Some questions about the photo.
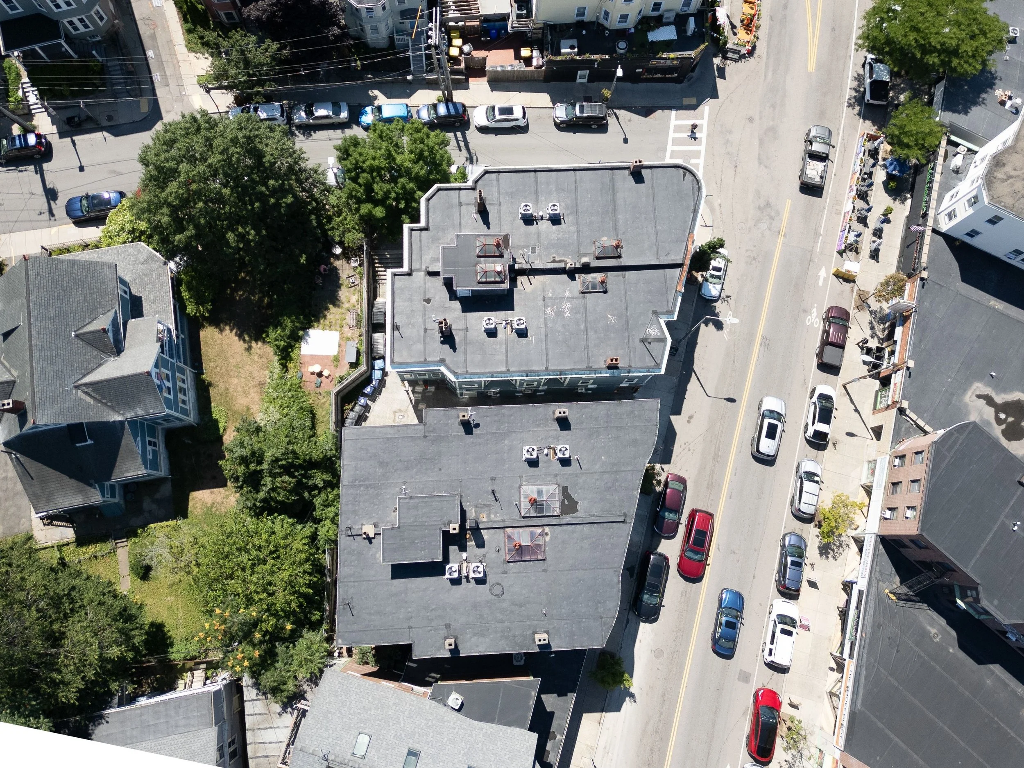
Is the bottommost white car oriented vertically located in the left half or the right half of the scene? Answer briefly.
right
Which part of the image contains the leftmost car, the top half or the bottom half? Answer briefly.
top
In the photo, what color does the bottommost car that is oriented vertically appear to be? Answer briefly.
red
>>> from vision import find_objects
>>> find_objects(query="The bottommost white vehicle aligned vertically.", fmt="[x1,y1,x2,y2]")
[764,597,799,671]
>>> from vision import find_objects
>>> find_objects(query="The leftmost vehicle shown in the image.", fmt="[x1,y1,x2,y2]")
[0,131,50,163]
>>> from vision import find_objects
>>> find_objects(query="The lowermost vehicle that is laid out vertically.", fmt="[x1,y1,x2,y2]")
[747,687,783,762]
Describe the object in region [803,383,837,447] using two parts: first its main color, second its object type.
white car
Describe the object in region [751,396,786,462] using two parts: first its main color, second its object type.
white car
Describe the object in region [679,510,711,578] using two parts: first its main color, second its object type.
red car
